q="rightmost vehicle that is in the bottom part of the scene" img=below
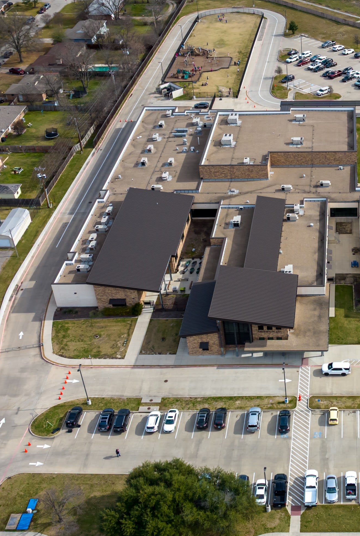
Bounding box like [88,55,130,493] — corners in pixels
[342,472,358,504]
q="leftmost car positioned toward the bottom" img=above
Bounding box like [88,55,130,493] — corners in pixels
[62,407,82,430]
